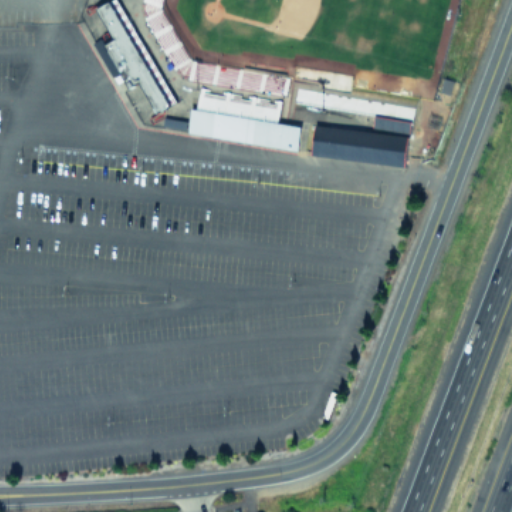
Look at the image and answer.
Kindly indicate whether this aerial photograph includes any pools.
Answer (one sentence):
No, no pool is visible in the view.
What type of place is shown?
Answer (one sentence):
It's a parking lot.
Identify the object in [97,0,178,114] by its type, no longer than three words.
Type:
building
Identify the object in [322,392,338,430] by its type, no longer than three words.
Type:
vehicle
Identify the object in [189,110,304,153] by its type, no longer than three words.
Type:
building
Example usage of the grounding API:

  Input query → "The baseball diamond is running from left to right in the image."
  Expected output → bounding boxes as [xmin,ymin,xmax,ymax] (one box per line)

[164,0,460,99]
